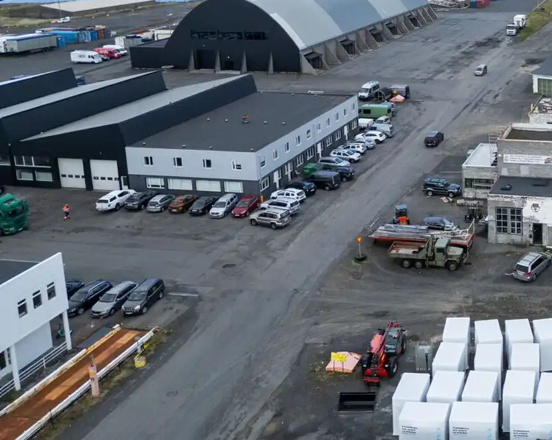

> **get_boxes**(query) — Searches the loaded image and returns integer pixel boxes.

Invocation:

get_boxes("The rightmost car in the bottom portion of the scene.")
[510,250,552,282]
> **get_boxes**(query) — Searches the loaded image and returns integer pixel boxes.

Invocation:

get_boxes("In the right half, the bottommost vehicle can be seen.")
[363,318,409,386]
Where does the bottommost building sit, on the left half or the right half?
left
